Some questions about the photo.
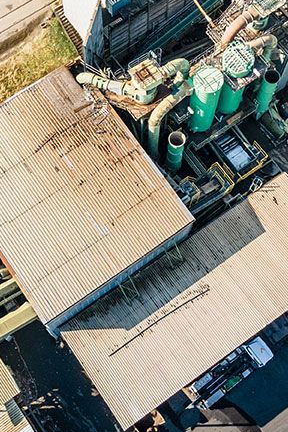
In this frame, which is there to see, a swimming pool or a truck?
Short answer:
truck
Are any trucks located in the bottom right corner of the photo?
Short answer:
Yes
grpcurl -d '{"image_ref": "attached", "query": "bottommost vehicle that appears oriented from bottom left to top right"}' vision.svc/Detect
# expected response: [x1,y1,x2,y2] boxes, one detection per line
[188,333,278,414]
